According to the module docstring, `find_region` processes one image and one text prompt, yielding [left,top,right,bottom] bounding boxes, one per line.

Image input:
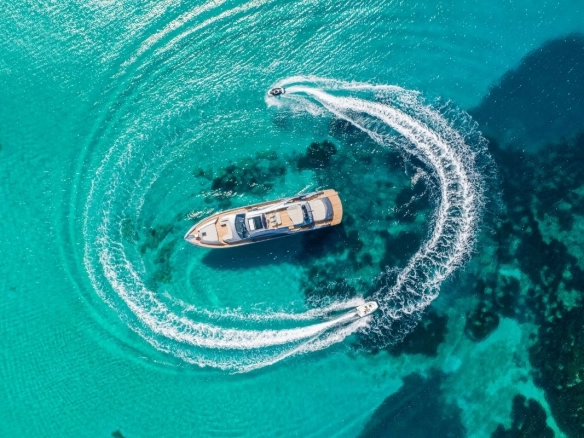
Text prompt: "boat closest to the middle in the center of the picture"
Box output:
[184,189,343,248]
